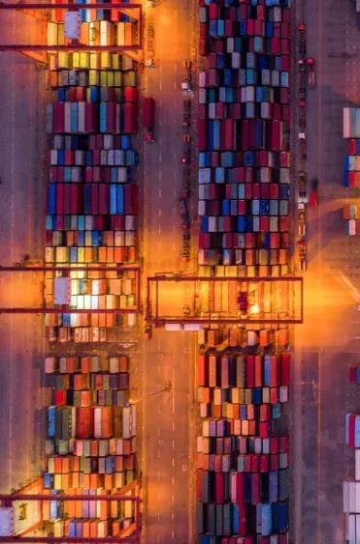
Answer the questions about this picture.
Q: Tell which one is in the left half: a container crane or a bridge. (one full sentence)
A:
The feature located in the left half is a container crane.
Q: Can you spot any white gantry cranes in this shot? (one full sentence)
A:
No, I find no white gantry crane anywhere in the image.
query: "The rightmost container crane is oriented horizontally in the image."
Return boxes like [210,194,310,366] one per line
[147,265,304,331]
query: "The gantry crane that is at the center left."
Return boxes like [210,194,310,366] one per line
[0,255,150,318]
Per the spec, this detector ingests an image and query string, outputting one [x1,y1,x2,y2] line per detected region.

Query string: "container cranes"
[0,2,152,68]
[0,255,150,318]
[0,473,149,544]
[147,265,304,331]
